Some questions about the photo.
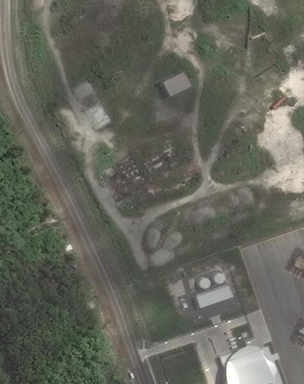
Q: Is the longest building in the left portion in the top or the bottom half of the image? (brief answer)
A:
top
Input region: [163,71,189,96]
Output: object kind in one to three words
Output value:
shed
